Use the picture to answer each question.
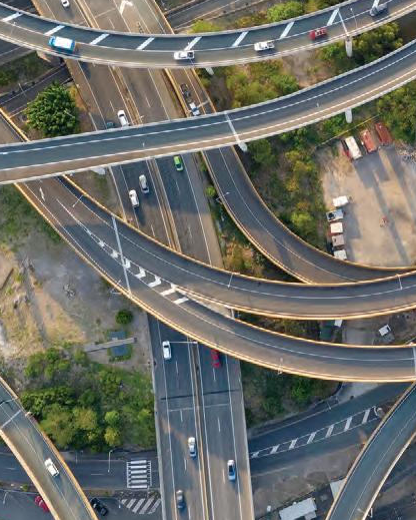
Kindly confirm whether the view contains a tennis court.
No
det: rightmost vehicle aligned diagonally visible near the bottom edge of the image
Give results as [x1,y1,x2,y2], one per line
[90,496,109,517]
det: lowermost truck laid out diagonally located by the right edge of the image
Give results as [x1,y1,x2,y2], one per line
[371,321,397,343]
